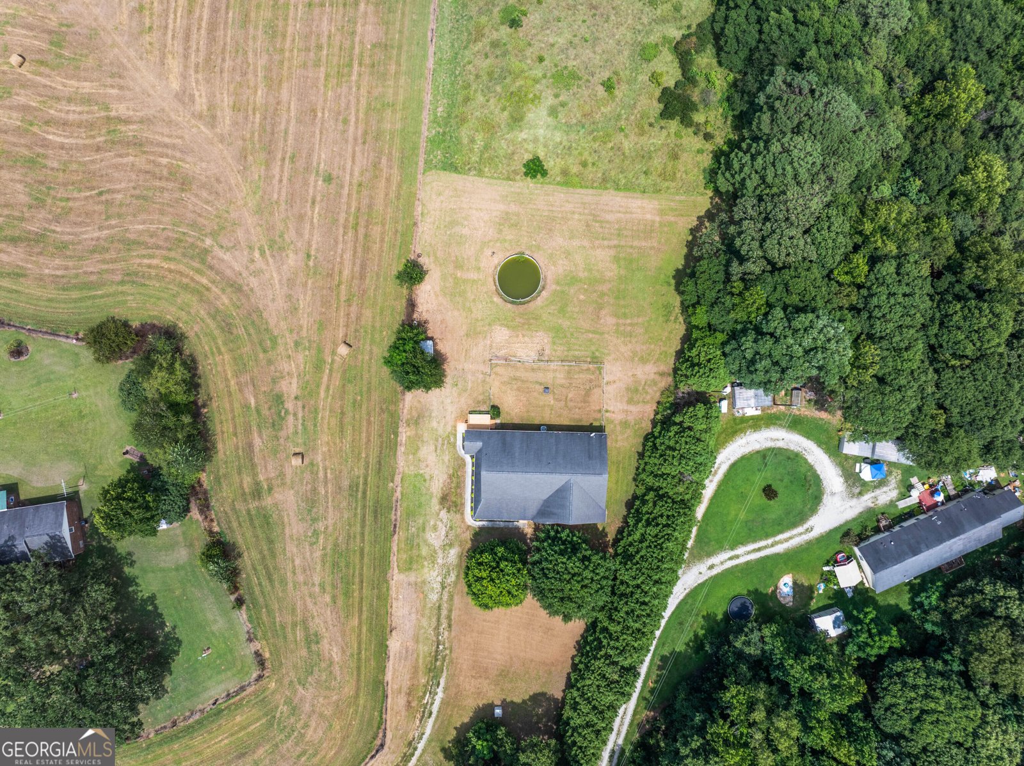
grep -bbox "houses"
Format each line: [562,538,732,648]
[852,488,1024,594]
[464,429,609,526]
[0,501,86,570]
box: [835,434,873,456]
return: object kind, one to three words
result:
shed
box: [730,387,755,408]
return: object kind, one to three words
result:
shed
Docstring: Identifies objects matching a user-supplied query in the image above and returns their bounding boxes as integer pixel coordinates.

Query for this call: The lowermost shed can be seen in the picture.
[809,607,848,639]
